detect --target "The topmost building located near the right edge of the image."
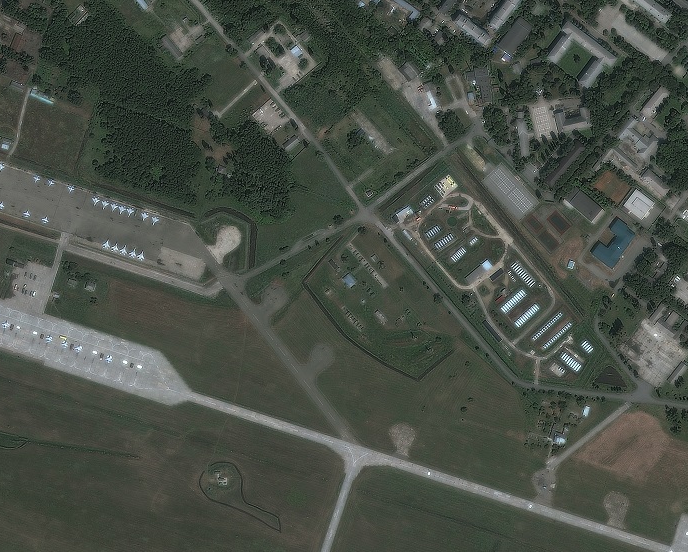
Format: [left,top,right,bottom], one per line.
[634,0,672,24]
